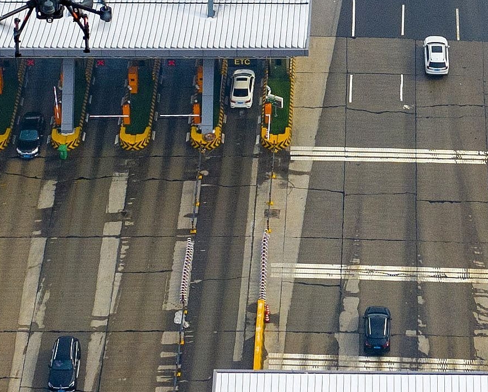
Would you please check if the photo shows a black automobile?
Yes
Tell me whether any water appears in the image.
No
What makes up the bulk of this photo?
paved ground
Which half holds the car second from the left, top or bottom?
bottom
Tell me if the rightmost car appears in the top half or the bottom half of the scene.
top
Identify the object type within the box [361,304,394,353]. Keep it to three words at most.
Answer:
car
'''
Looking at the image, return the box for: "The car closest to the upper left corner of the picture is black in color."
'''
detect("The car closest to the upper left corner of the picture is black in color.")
[16,115,49,157]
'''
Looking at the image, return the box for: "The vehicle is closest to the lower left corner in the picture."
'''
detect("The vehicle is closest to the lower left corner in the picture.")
[48,338,84,392]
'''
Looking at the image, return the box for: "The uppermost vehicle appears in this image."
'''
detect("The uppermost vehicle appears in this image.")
[423,39,451,76]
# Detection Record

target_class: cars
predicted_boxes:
[48,338,84,392]
[423,39,451,76]
[16,115,49,157]
[361,304,394,353]
[229,69,258,107]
